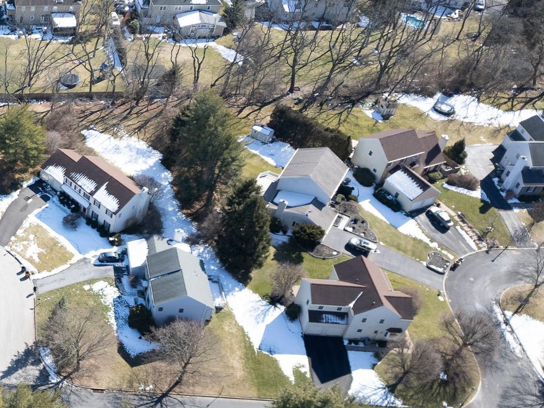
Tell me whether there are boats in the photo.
No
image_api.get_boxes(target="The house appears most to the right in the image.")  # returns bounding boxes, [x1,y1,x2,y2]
[476,110,544,195]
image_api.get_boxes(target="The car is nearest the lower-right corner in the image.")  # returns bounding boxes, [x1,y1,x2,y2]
[429,206,453,229]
